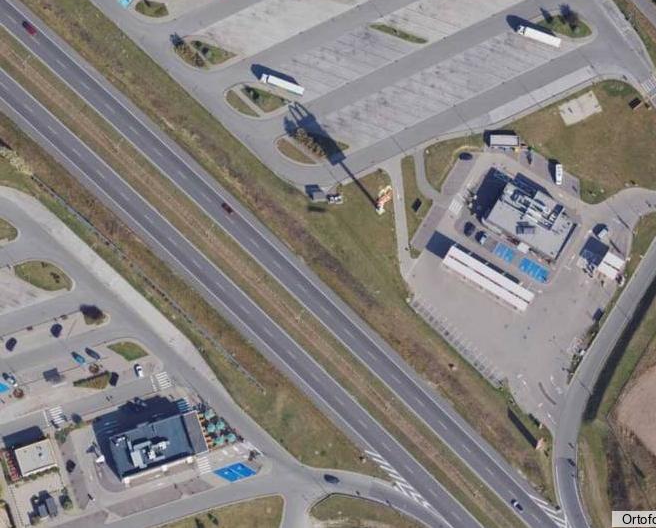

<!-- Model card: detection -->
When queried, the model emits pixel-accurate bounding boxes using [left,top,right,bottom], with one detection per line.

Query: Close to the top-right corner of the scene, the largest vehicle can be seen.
[518,29,562,48]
